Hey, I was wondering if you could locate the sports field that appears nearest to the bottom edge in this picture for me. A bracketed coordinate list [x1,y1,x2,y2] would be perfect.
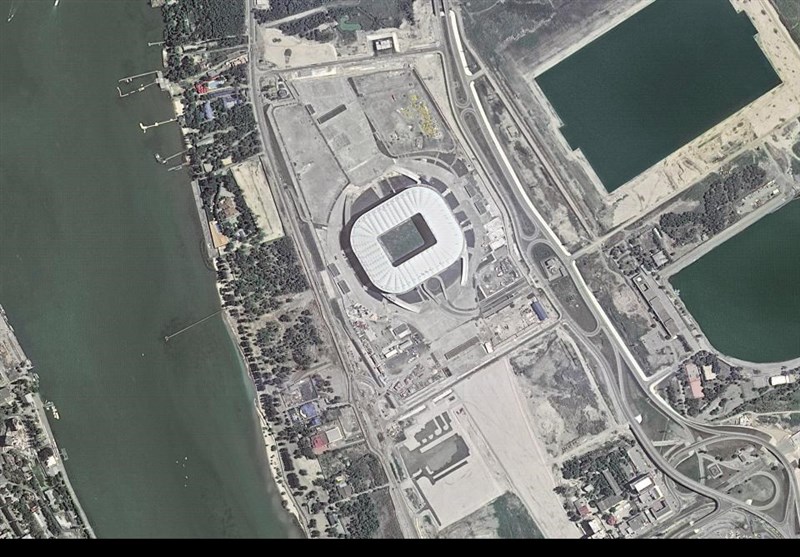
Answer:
[378,214,436,266]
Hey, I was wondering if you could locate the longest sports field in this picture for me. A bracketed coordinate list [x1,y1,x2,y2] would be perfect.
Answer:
[232,155,284,243]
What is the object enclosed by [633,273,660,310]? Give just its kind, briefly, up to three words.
building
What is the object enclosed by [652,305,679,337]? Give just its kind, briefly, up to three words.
building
